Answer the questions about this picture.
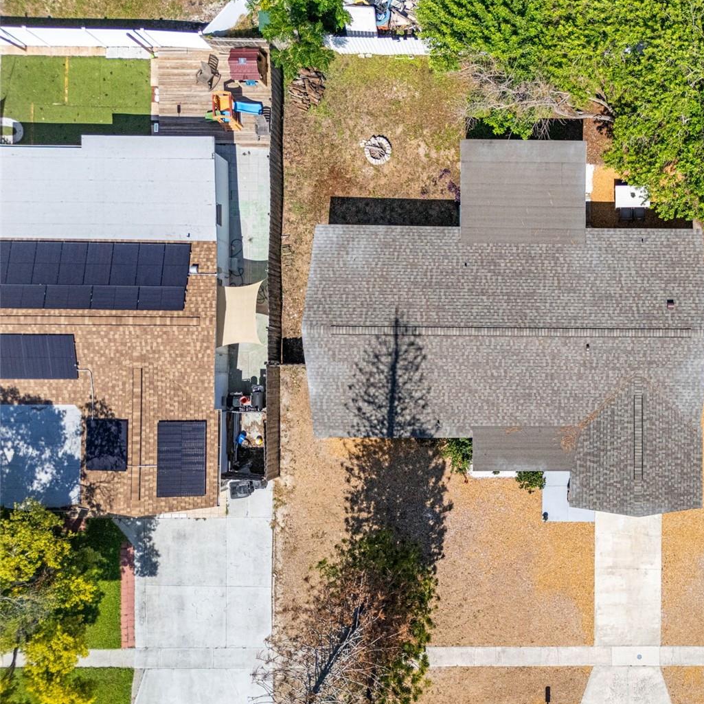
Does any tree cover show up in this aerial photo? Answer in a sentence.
Yes, there's tree cover in this view.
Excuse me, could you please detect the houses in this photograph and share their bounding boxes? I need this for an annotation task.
[303,141,704,515]
[0,135,236,522]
